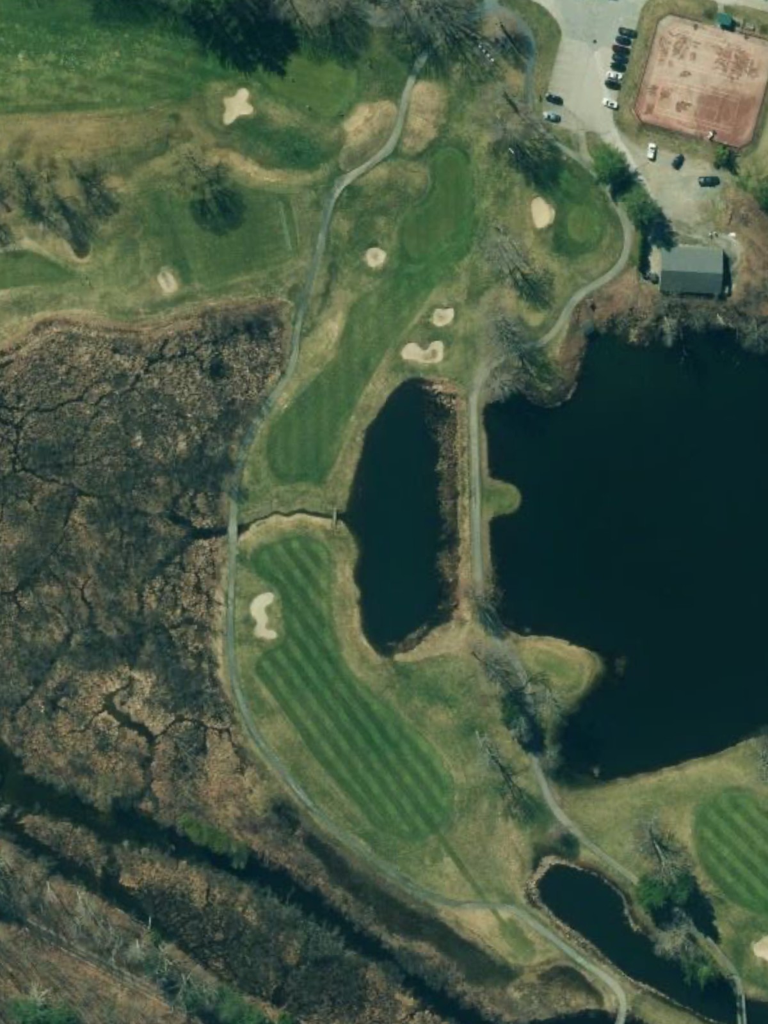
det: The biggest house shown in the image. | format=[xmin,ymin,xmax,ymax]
[660,247,725,294]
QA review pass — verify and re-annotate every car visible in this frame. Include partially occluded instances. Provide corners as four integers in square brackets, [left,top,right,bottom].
[619,27,637,37]
[612,44,630,54]
[606,71,623,80]
[700,177,719,185]
[546,94,563,104]
[610,61,627,70]
[602,98,618,107]
[615,36,632,45]
[613,53,629,62]
[673,153,683,168]
[649,142,656,159]
[544,112,560,121]
[605,79,621,88]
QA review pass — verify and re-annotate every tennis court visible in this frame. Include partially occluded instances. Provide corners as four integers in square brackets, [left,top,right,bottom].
[635,15,768,147]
